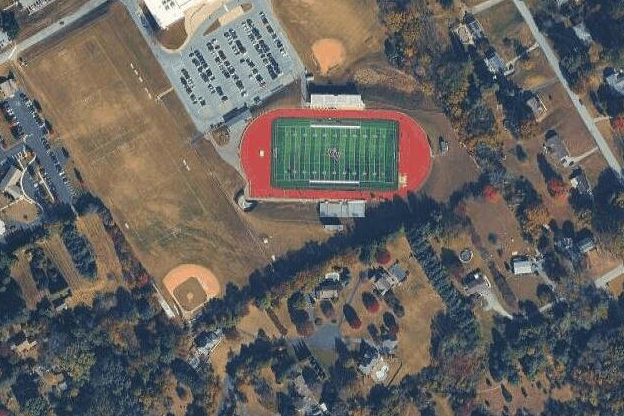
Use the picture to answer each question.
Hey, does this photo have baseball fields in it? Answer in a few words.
Yes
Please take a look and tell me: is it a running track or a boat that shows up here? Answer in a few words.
running track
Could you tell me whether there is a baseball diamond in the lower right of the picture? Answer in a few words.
No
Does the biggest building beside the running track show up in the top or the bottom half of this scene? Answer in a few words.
top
